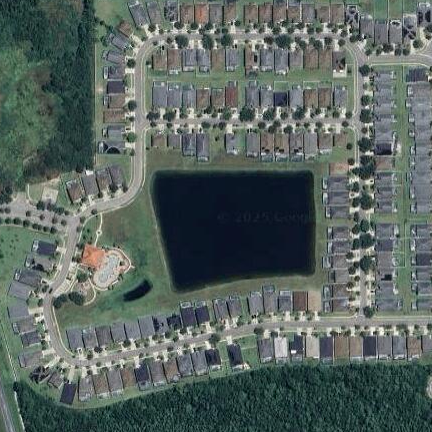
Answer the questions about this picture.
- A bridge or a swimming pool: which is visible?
swimming pool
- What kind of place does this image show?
residential area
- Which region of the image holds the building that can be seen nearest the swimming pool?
left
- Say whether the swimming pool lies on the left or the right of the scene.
left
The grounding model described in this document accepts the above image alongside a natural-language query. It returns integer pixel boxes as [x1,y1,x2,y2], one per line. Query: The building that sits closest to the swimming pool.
[80,244,106,268]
